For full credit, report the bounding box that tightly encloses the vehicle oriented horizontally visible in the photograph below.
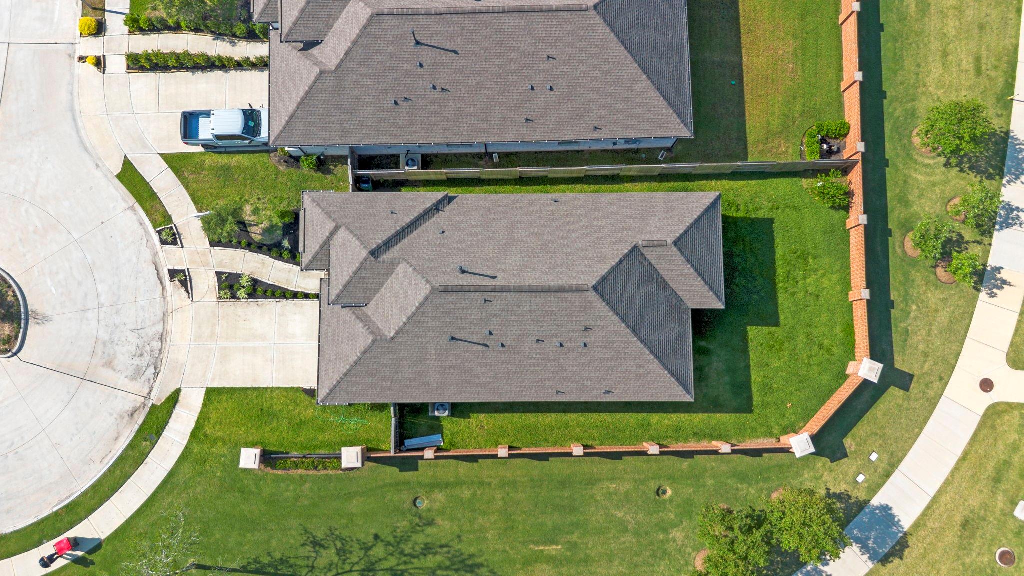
[180,107,270,150]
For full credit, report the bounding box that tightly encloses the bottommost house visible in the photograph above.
[296,189,726,406]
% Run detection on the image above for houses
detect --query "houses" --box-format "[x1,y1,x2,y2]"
[247,0,696,158]
[296,189,726,406]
